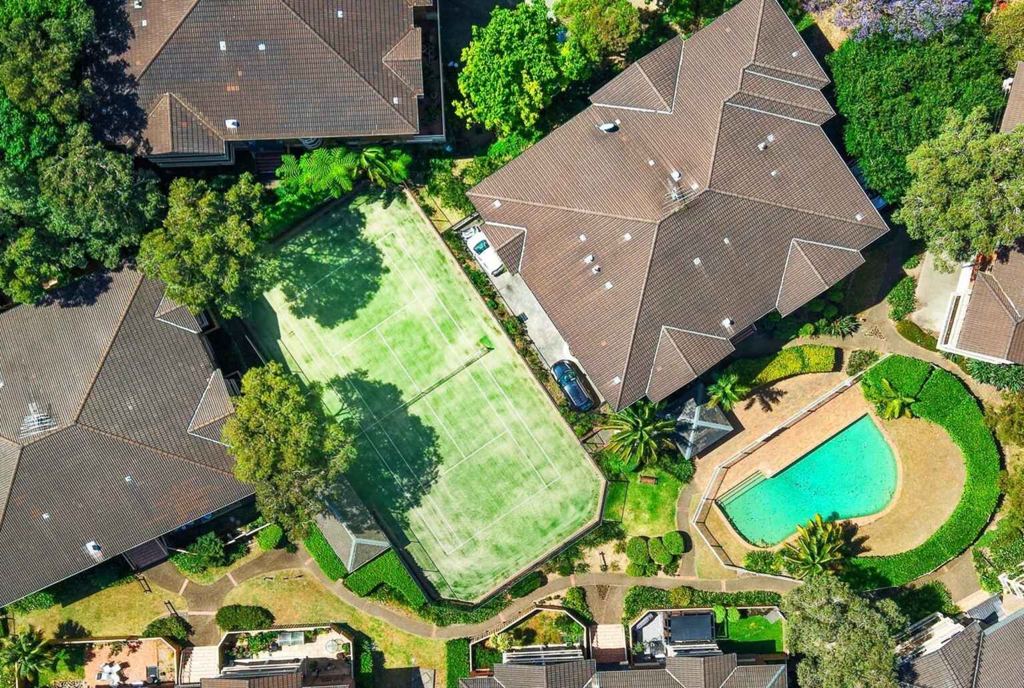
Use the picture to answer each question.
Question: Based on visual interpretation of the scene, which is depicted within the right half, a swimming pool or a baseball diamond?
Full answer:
The one visible within the right half is a swimming pool.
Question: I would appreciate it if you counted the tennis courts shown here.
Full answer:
Altogether the scene contains 1 tennis court.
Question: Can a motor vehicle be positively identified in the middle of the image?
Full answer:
Yes, the scene does show a motor vehicle in the middle of the image.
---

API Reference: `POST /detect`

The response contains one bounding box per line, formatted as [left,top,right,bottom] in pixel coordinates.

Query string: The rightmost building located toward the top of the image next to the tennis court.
[467,0,891,413]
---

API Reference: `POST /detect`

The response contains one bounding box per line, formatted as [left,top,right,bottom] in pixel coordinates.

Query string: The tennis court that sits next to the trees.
[242,183,605,604]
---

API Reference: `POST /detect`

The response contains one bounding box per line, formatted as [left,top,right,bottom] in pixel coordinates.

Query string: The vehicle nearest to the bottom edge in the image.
[552,357,595,416]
